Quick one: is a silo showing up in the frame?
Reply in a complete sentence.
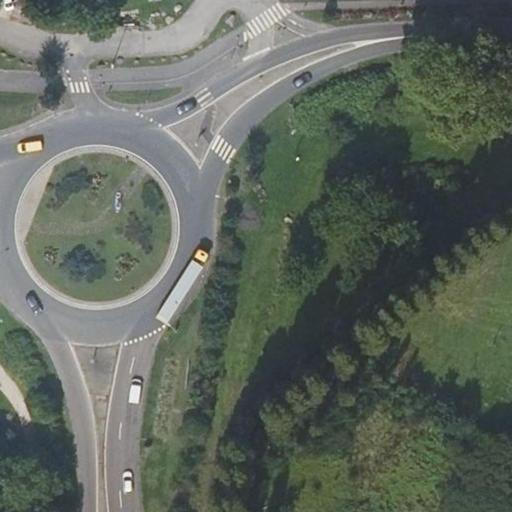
No, I can't see a single silo in this photo.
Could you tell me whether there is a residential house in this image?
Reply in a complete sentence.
No, the frame has no residential house in it.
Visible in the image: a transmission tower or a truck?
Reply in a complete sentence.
Visible in the photo is a truck.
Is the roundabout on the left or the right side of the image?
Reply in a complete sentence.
The roundabout is on the left side of the image.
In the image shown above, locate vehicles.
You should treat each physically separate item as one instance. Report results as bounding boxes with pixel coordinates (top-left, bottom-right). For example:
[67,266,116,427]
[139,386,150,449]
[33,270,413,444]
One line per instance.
[129,378,142,406]
[156,250,211,326]
[176,97,198,114]
[17,140,43,154]
[4,0,14,12]
[122,470,134,494]
[27,290,43,314]
[292,72,312,89]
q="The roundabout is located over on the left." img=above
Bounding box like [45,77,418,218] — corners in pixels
[0,112,214,344]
